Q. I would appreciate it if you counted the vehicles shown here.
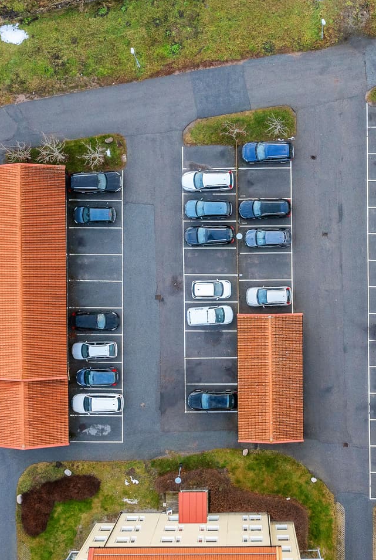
16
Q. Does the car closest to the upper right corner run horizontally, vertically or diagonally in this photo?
horizontally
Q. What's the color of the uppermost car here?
blue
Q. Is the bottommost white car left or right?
left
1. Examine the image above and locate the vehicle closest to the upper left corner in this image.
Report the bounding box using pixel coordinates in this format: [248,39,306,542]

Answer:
[69,171,122,195]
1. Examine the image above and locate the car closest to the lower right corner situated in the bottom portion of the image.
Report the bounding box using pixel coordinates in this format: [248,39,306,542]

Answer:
[187,389,239,413]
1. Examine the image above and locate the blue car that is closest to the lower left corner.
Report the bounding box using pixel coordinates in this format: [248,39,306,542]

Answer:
[76,366,119,387]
